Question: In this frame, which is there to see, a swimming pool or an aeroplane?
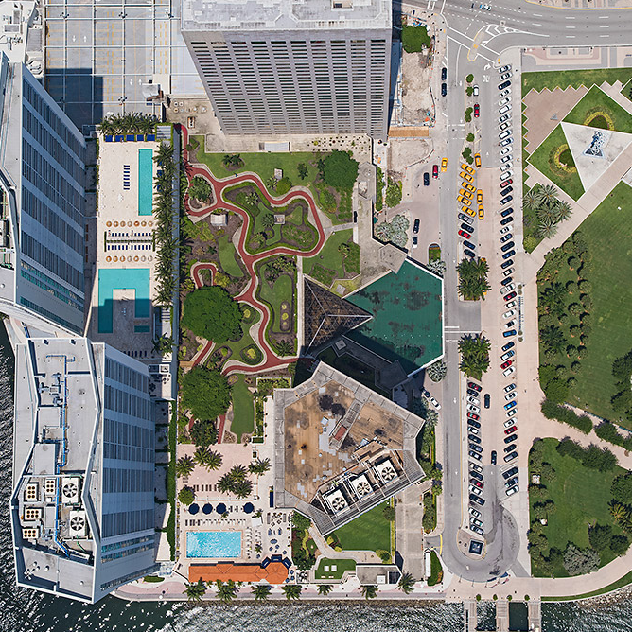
swimming pool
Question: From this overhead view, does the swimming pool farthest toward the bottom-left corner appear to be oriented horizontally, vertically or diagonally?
horizontally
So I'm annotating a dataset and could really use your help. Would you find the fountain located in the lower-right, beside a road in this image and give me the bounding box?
[469,538,486,555]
